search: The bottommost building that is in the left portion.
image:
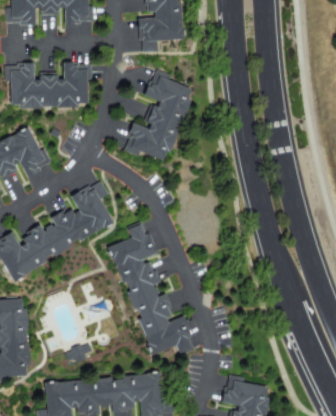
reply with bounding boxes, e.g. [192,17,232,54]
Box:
[41,376,170,416]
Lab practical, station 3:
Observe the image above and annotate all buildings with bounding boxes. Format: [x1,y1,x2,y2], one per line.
[126,68,193,160]
[67,339,91,359]
[112,231,195,352]
[0,126,53,178]
[6,0,89,22]
[4,62,92,106]
[222,374,268,416]
[0,298,31,376]
[139,0,184,48]
[0,184,112,279]
[41,376,170,416]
